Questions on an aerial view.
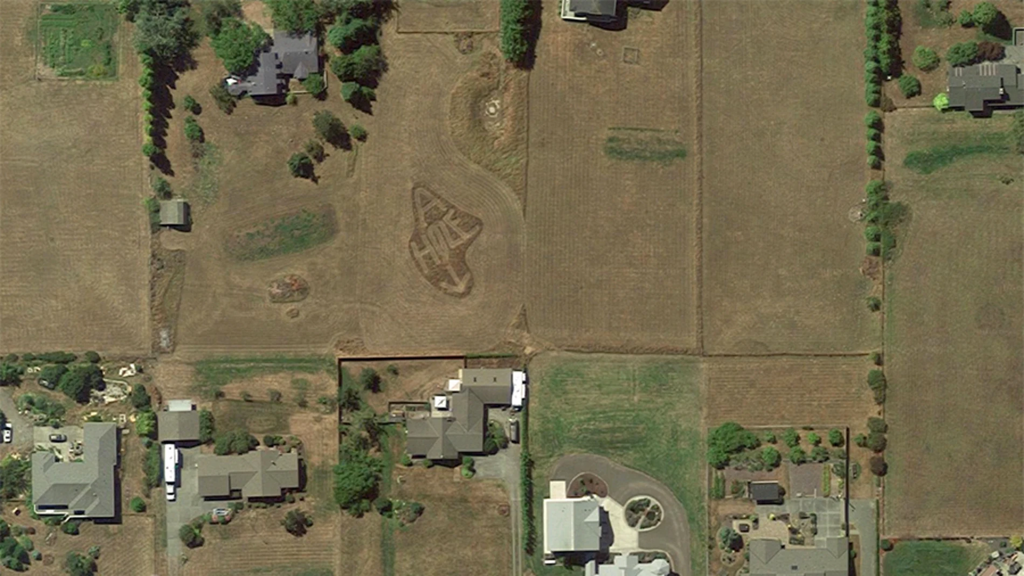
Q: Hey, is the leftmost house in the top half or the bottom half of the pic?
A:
bottom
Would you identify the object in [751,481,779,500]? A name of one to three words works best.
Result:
shed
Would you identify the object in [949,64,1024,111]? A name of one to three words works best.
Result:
house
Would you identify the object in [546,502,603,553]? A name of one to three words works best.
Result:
barn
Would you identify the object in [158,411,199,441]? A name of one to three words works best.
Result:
building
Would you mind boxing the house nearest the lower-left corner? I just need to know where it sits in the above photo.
[31,422,116,522]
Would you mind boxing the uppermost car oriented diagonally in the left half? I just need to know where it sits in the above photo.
[38,377,54,391]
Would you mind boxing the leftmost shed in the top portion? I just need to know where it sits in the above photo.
[159,200,185,225]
